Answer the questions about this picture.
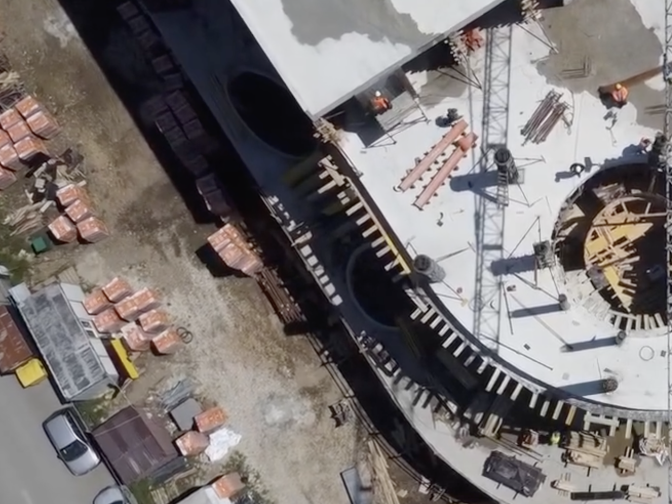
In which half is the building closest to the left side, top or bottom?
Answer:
bottom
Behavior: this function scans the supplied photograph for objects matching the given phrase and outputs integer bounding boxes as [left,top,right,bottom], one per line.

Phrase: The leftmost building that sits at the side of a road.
[16,279,127,401]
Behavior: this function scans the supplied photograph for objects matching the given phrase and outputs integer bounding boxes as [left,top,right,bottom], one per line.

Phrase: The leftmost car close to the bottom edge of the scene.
[41,404,105,481]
